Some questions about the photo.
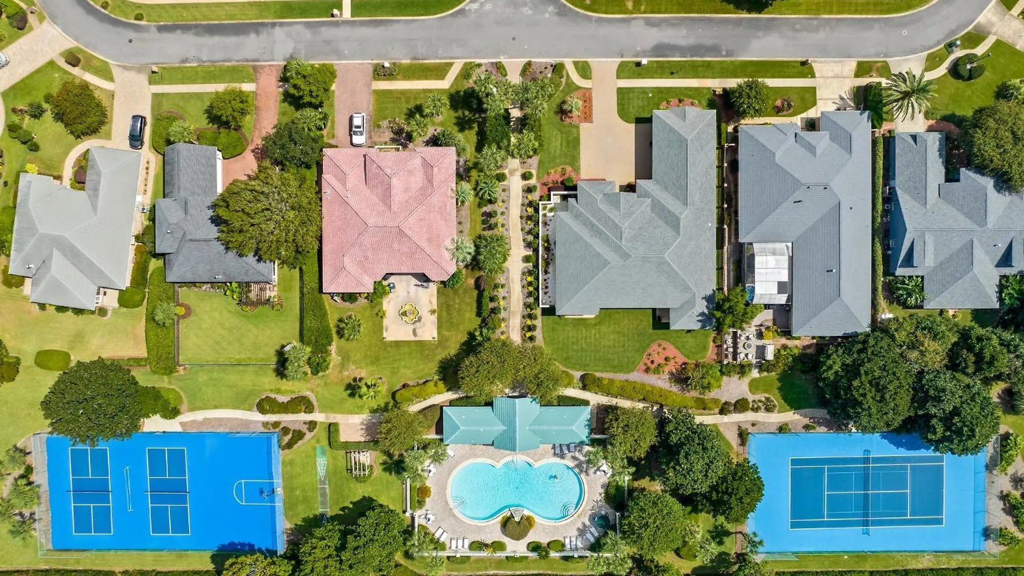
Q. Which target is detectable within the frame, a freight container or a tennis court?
tennis court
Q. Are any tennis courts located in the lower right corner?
Yes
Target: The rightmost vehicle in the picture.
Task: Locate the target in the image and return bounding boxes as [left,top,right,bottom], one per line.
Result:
[350,112,365,145]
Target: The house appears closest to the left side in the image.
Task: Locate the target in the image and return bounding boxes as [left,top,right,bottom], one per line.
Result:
[8,147,148,310]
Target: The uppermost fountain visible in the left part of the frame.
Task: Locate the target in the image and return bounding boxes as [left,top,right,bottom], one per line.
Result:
[399,303,420,324]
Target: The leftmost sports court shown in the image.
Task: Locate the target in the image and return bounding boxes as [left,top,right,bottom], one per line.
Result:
[46,431,284,551]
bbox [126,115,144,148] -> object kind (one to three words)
car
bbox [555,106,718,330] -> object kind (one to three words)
house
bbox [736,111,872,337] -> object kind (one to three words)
house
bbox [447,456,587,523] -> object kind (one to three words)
swimming pool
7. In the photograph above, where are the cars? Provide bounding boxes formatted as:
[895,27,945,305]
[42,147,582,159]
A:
[126,115,144,148]
[0,48,11,64]
[350,112,365,145]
